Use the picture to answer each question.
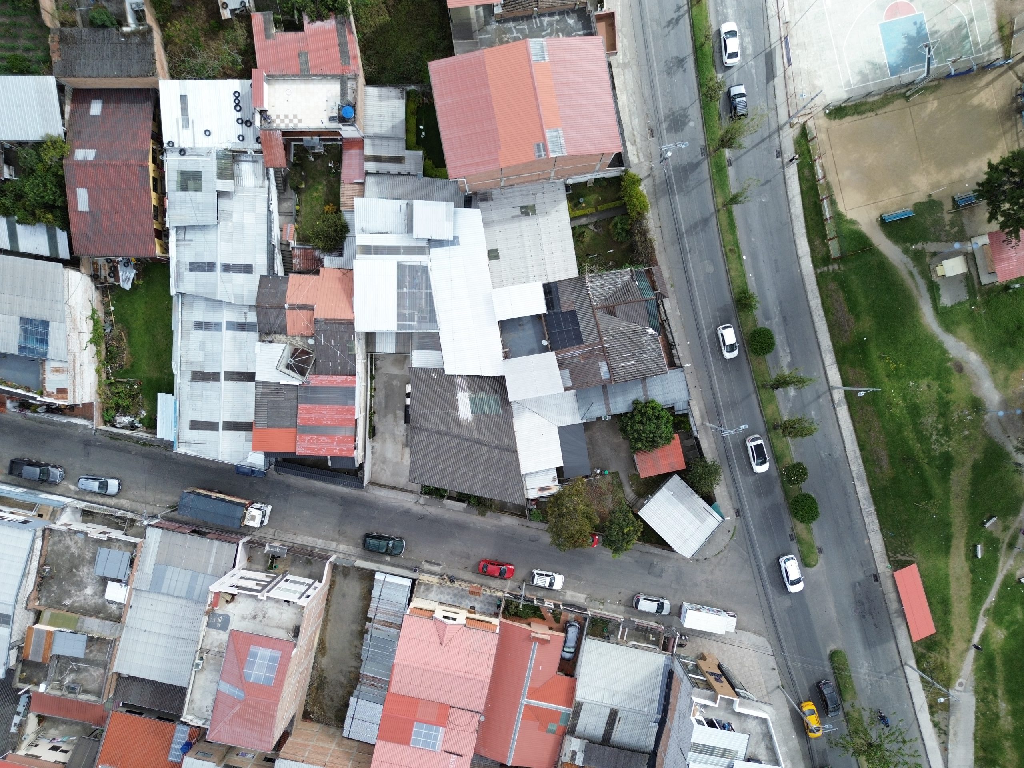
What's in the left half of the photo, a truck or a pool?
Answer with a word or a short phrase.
truck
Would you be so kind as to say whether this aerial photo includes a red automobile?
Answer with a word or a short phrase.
Yes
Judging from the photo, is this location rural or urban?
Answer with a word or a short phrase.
urban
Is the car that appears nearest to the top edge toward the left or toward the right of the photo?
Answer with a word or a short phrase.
right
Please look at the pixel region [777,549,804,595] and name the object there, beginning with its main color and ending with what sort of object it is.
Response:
white car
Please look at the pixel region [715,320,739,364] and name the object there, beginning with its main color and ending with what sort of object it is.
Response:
white car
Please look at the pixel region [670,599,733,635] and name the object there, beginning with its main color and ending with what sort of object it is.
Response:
white truck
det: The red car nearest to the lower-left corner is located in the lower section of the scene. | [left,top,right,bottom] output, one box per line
[475,558,517,581]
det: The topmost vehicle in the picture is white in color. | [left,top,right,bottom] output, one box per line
[718,22,741,69]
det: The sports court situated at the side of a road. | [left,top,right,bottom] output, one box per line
[785,0,1004,114]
